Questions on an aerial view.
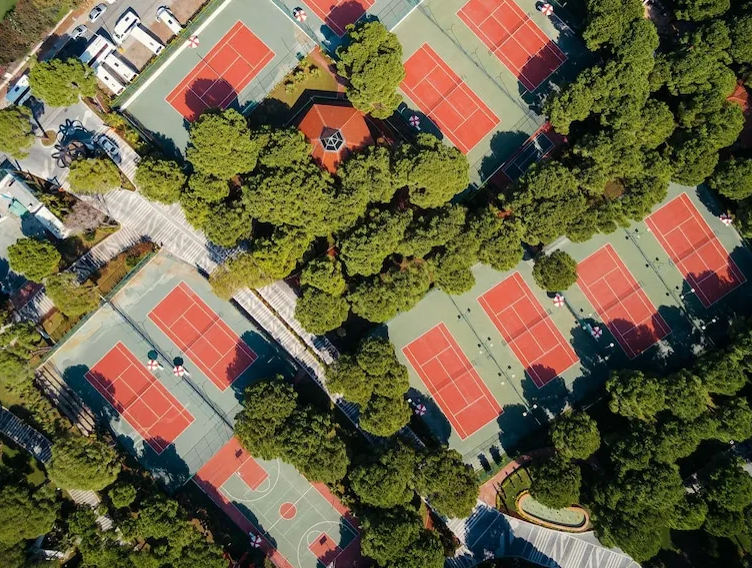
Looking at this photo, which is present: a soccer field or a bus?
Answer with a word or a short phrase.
bus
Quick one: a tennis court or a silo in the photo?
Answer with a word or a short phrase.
tennis court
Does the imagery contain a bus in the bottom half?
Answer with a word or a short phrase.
No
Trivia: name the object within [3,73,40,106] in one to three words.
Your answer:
bus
